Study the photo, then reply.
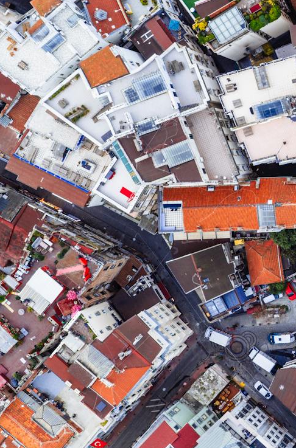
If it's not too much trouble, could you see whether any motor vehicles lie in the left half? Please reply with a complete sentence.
No, I see no motor vehicle in the left half.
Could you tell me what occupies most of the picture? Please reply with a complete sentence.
For the most part, this view shows buildings.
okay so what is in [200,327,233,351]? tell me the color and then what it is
white truck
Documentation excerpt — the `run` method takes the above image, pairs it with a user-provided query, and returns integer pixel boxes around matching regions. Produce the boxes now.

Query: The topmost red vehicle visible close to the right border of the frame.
[284,282,296,304]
